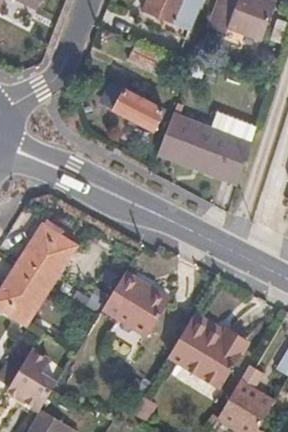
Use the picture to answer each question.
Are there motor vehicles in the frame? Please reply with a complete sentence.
Yes, there's a motor vehicle down there.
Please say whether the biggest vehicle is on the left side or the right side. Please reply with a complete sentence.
You can find the biggest vehicle on the left side of the picture.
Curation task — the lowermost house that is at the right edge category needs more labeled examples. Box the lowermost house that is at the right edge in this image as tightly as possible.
[216,364,276,432]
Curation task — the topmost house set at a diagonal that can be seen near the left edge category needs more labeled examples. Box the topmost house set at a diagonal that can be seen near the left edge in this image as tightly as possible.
[0,219,79,328]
